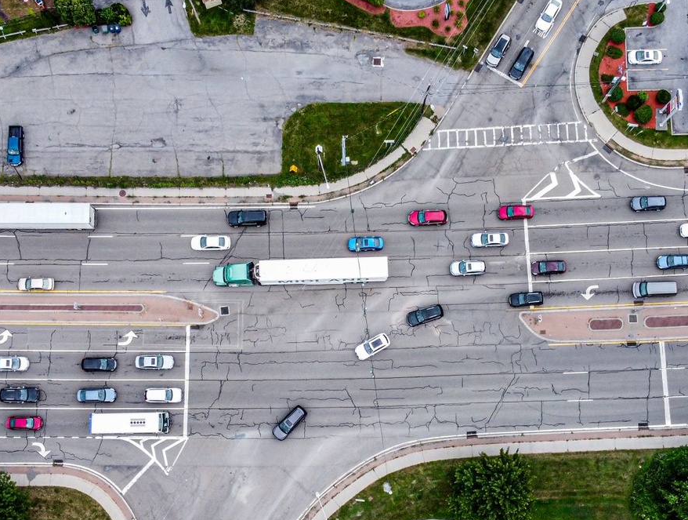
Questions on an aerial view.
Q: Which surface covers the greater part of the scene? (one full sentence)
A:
The scene is dominated by paved ground.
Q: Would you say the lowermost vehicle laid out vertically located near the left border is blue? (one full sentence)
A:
Yes, the lowermost vehicle laid out vertically located near the left border is blue.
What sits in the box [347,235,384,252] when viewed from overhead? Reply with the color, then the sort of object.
blue car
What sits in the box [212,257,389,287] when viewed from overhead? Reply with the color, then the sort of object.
white truck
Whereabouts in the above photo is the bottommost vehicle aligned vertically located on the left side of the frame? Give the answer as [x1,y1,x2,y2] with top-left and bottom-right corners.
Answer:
[4,124,25,168]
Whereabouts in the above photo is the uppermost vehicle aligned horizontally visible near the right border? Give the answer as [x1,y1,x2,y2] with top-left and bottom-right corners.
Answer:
[626,48,663,66]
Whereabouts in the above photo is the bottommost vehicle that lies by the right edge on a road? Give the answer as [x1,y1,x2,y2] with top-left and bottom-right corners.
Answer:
[630,280,680,298]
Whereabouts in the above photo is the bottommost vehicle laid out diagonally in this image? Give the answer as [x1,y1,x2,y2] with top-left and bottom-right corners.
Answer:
[272,402,308,443]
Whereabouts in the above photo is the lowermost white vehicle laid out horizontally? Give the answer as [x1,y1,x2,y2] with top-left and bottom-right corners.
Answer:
[87,411,175,434]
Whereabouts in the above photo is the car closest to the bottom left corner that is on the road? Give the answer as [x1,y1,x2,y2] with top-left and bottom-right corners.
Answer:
[5,415,45,433]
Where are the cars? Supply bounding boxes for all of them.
[532,0,565,38]
[507,43,537,84]
[76,386,118,405]
[0,385,42,404]
[272,402,308,443]
[5,415,45,433]
[347,235,384,252]
[628,194,668,212]
[191,234,230,251]
[654,253,688,271]
[0,355,32,373]
[676,223,688,238]
[449,258,487,277]
[496,204,534,221]
[507,291,543,309]
[135,354,176,372]
[407,207,447,226]
[354,330,392,361]
[483,30,514,70]
[80,356,119,374]
[145,386,183,405]
[405,303,445,327]
[529,258,567,276]
[469,231,509,248]
[18,274,56,292]
[227,209,267,227]
[626,48,663,66]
